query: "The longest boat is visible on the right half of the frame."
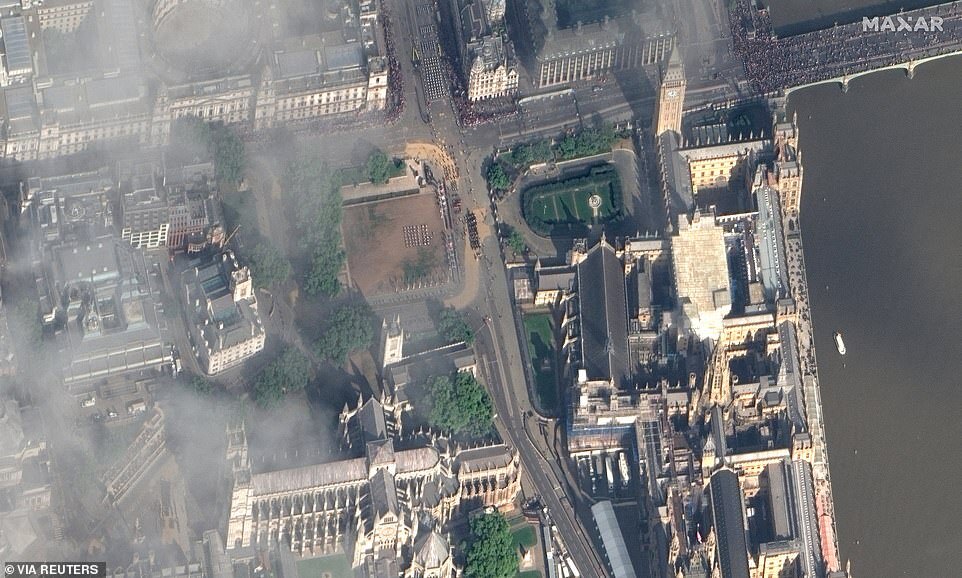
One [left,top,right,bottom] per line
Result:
[833,337,846,361]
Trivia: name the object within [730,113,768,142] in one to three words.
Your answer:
building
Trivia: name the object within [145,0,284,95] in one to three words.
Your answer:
building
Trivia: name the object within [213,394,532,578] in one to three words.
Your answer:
church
